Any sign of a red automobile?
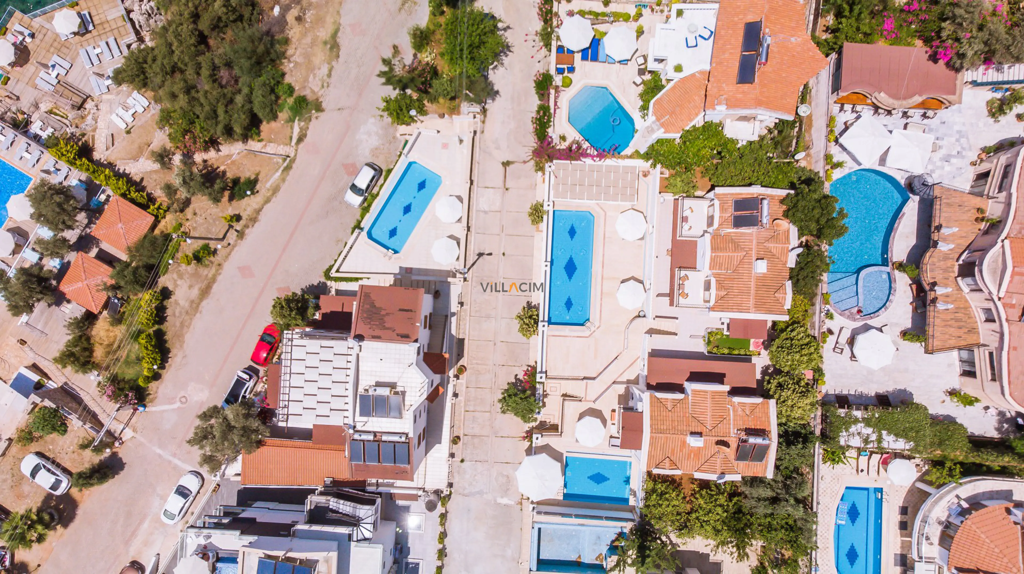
Yes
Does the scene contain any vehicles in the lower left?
Yes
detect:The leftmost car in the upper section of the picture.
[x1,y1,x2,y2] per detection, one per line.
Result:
[344,158,385,210]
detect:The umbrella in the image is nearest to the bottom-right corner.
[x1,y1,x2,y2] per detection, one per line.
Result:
[885,457,915,486]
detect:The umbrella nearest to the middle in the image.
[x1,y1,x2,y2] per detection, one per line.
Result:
[431,236,460,266]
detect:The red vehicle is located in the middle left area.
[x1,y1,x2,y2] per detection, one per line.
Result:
[248,322,280,369]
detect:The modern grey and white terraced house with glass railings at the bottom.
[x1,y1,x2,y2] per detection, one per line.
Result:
[169,479,402,574]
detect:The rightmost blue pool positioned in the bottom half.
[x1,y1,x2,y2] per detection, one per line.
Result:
[834,487,882,574]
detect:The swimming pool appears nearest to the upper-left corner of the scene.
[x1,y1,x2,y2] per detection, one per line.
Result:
[0,158,33,228]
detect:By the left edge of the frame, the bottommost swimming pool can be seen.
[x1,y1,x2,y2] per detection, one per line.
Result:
[22,374,41,397]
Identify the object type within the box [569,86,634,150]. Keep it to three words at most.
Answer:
swimming pool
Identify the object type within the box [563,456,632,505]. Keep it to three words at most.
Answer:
swimming pool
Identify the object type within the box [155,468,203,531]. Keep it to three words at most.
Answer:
car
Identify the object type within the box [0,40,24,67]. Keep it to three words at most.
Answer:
umbrella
